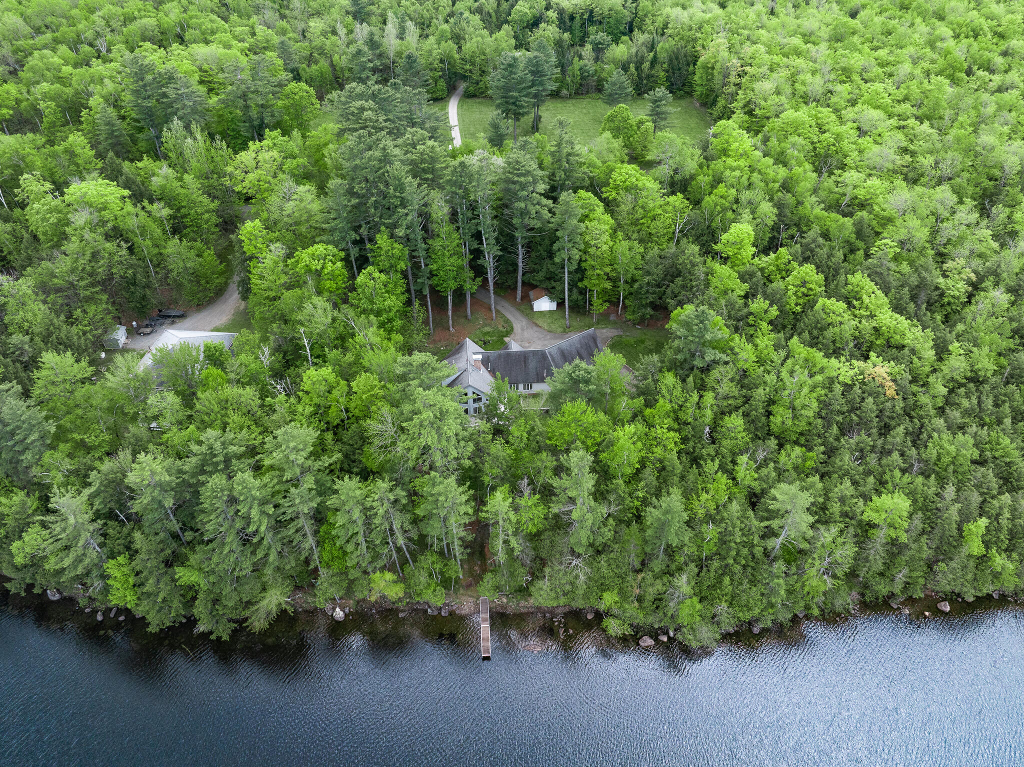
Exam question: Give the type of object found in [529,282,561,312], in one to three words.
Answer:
shed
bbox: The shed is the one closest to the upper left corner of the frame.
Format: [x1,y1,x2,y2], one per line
[101,324,129,349]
